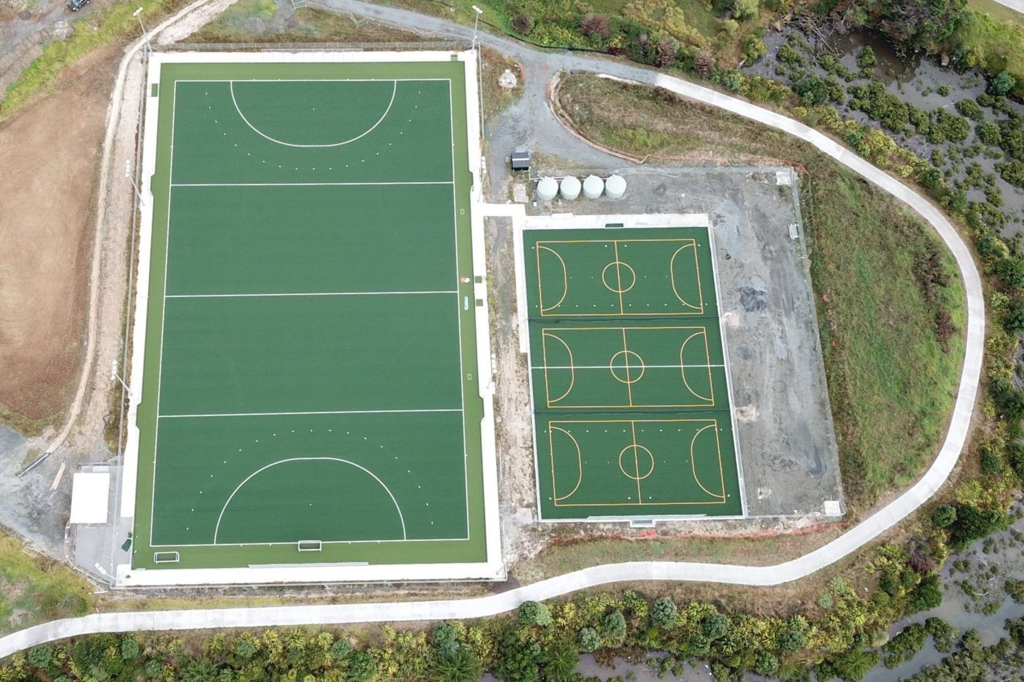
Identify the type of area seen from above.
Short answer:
sports ground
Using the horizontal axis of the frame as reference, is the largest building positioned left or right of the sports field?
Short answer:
left of it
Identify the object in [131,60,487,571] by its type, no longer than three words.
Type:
sports field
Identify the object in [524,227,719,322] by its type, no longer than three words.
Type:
sports court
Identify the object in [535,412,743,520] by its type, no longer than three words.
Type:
sports court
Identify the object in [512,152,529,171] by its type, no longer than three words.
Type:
shed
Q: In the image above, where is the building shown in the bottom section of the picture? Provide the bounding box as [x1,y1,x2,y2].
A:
[70,466,112,525]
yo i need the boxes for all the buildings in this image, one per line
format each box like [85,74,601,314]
[512,152,529,171]
[70,466,112,525]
